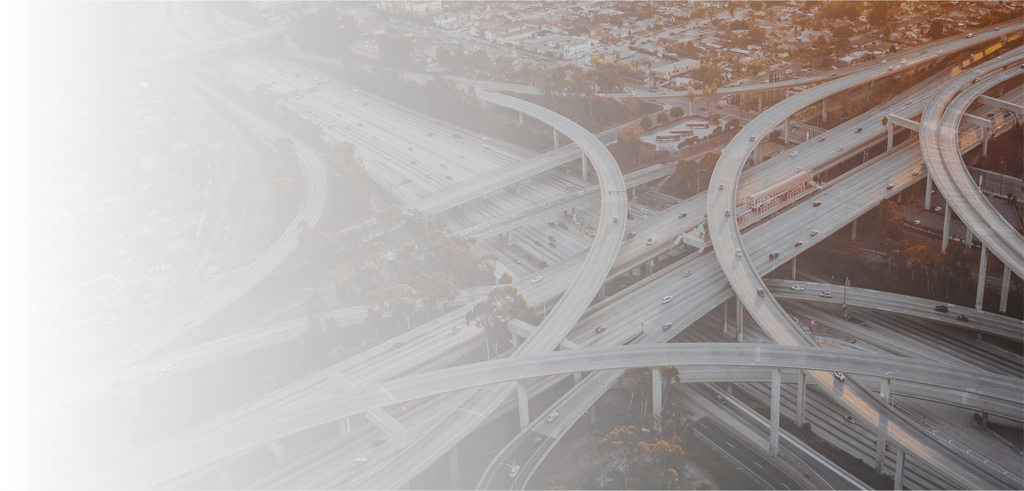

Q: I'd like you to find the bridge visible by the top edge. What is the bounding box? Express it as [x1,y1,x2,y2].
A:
[0,23,310,103]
